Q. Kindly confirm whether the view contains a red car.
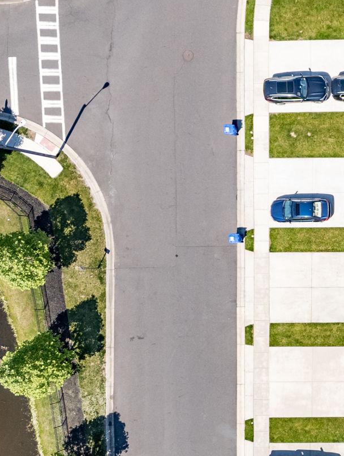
No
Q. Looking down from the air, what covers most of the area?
paved ground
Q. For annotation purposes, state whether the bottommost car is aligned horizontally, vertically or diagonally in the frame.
horizontally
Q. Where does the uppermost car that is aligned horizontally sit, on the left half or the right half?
right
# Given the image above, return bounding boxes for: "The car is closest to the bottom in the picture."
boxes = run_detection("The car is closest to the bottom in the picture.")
[269,195,334,226]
